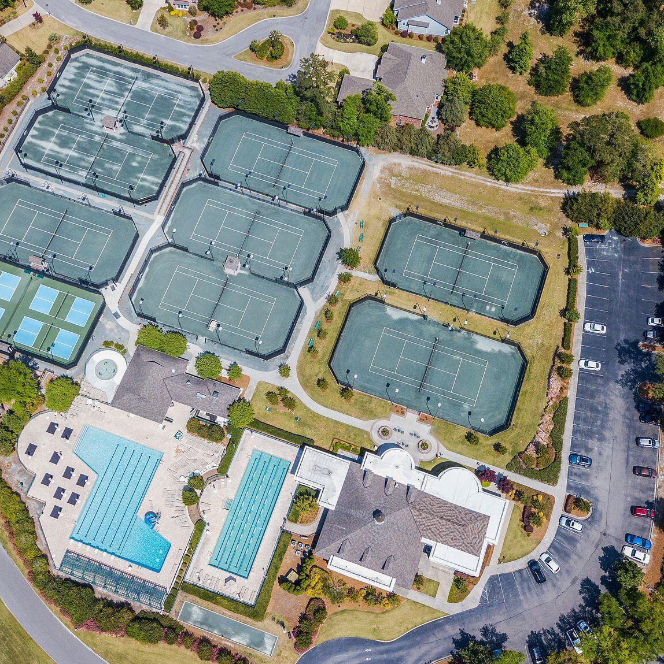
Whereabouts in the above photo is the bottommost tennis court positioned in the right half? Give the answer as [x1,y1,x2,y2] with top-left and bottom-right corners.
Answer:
[330,295,531,436]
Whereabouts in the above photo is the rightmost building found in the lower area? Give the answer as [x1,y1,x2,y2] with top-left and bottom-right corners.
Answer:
[294,445,509,593]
